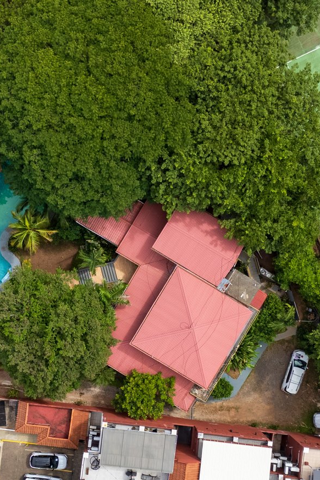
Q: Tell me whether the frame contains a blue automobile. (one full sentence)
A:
No, no blue automobile is visible in the view.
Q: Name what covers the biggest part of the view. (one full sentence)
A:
For the most part, this view shows trees.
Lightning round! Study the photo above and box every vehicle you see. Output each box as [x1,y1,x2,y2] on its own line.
[21,474,61,480]
[312,412,320,430]
[282,351,310,394]
[28,451,68,474]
